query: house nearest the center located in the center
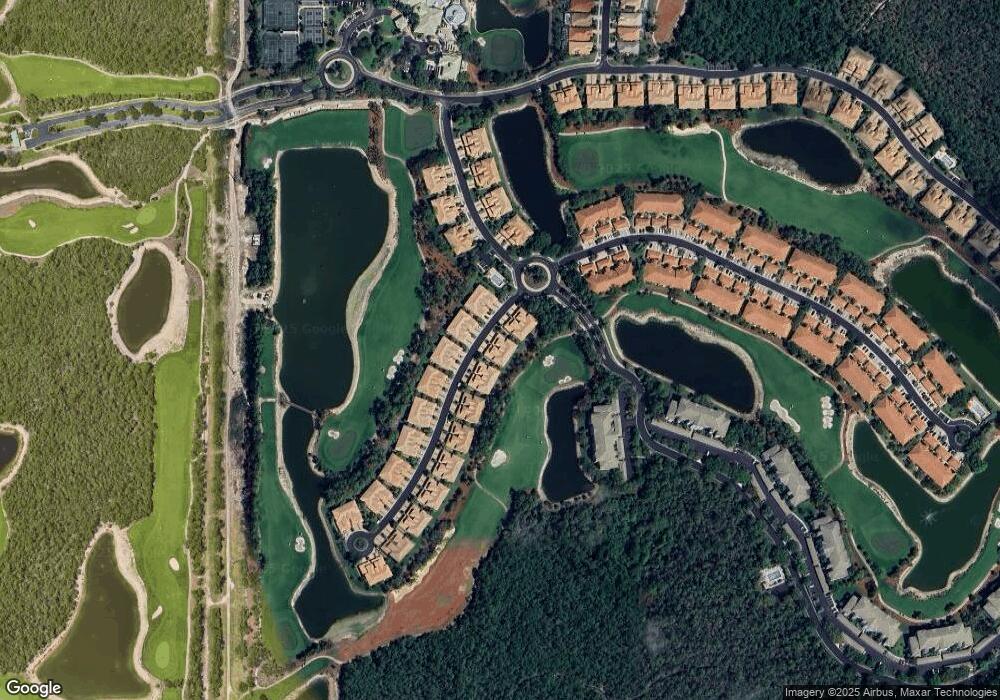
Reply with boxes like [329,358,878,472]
[483,332,519,367]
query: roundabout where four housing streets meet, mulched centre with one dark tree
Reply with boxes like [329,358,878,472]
[514,255,559,300]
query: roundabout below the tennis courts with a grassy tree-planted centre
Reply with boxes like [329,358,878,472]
[317,51,362,96]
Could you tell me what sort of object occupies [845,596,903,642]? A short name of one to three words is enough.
building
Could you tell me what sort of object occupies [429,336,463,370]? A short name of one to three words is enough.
house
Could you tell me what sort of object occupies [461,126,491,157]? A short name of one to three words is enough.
house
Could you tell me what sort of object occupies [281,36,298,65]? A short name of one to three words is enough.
tennis court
